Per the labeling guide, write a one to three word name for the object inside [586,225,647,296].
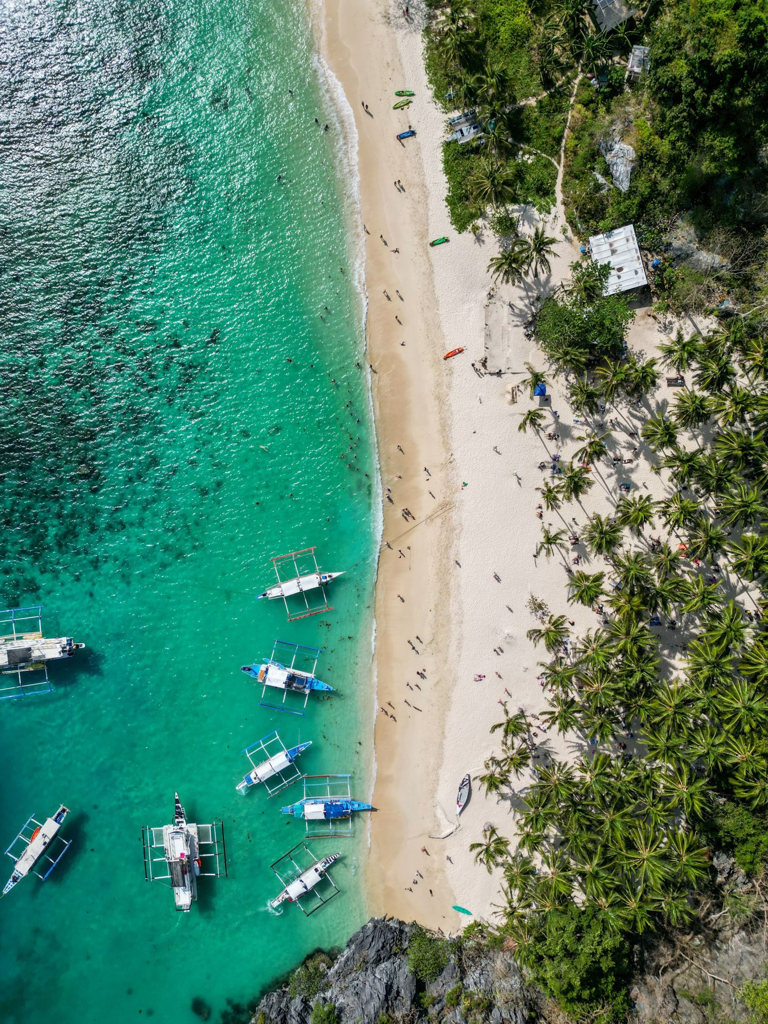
shed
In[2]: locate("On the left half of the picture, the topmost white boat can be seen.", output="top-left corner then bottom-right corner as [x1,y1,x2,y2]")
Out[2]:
[257,547,346,621]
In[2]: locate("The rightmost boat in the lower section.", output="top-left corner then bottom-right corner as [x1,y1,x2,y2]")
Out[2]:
[457,773,469,815]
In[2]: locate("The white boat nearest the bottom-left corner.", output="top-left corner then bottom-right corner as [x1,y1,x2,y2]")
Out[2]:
[3,803,72,894]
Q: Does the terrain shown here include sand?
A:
Yes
